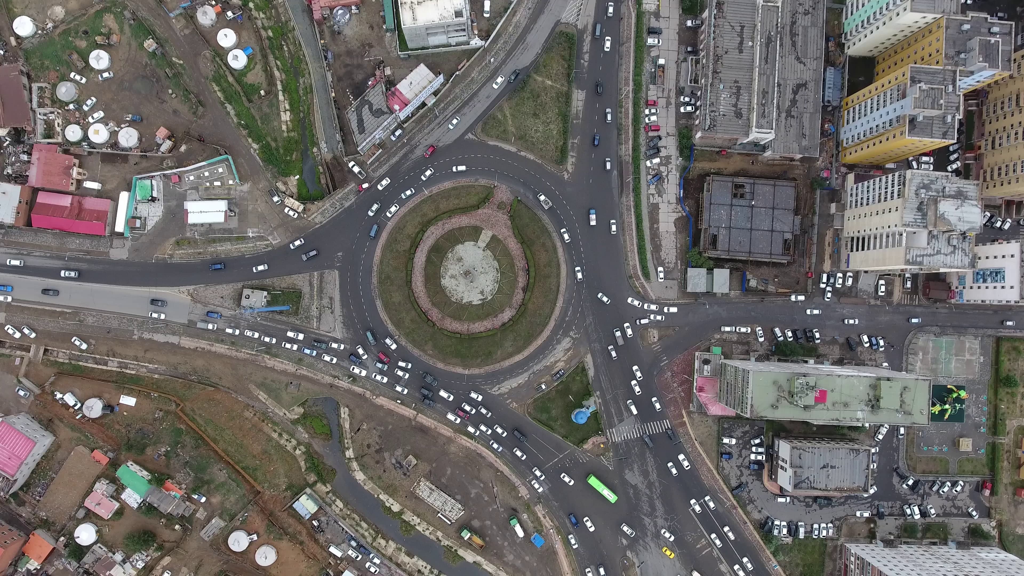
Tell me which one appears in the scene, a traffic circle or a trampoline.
traffic circle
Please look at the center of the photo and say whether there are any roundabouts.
Yes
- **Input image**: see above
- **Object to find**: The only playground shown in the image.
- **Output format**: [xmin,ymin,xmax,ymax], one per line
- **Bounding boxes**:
[908,334,1005,472]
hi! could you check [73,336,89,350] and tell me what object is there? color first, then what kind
white car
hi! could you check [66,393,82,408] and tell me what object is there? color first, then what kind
white vehicle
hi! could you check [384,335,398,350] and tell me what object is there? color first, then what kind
white vehicle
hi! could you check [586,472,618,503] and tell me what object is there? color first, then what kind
green bus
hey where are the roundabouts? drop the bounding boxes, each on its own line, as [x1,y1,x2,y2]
[374,179,565,371]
